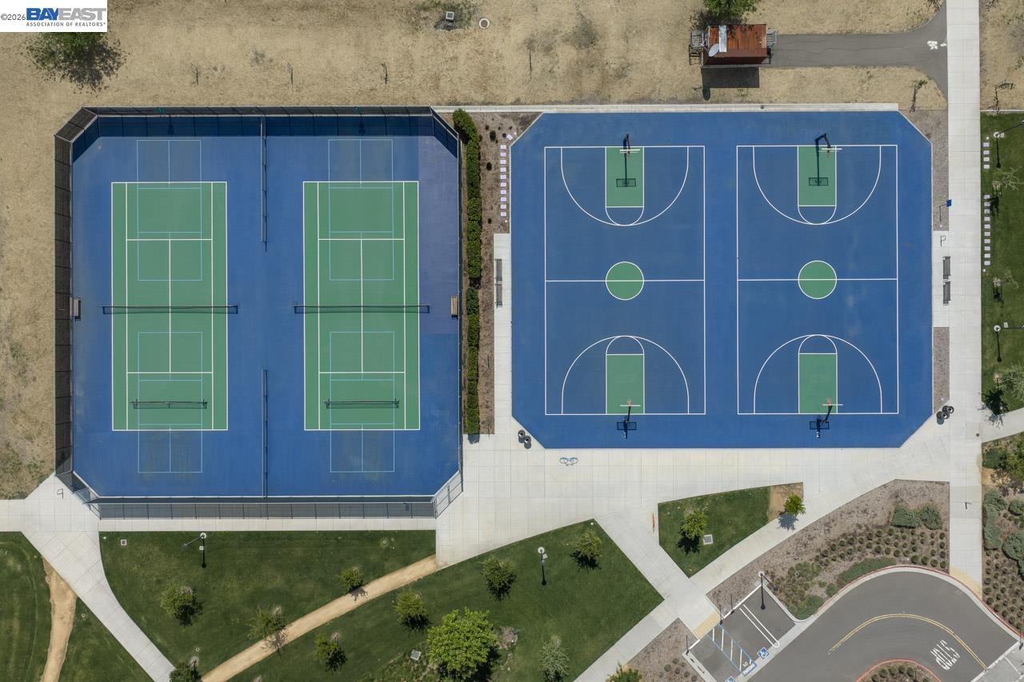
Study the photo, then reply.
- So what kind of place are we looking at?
sports ground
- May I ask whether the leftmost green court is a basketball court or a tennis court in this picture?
tennis court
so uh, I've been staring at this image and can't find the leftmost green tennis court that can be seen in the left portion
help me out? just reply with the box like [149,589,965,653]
[112,181,228,431]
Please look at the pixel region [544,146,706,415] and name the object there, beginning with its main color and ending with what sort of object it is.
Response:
blue basketball court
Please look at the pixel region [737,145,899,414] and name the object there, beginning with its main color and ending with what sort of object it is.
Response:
blue basketball court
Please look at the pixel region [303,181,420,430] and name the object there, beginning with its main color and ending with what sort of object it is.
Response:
green tennis court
